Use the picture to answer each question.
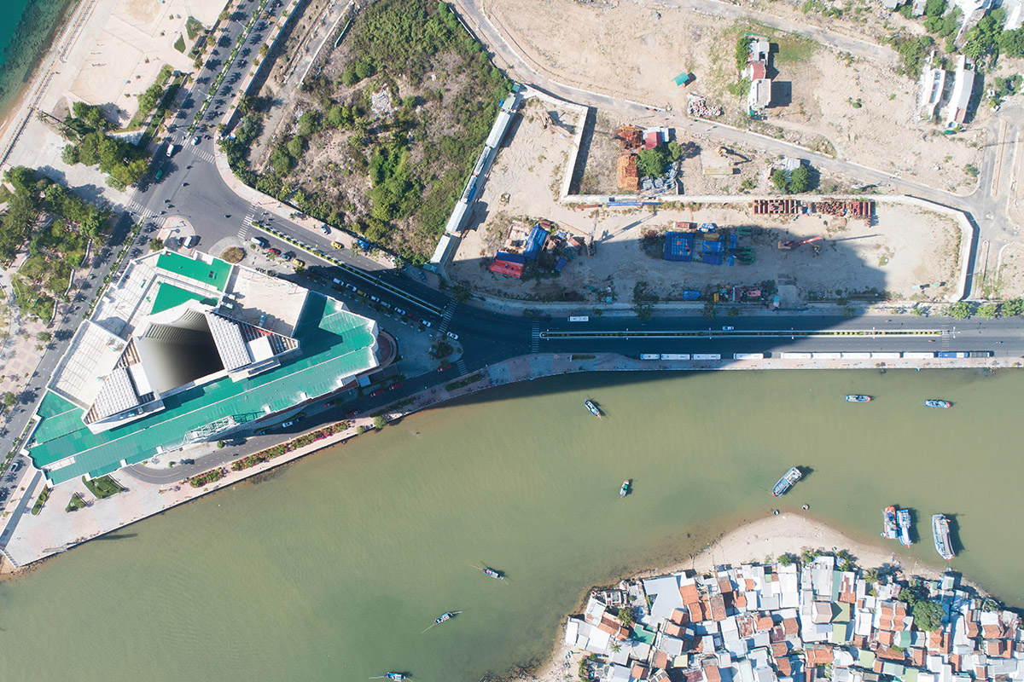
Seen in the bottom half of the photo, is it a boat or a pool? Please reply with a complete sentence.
Visible in the bottom half of the photo is a boat.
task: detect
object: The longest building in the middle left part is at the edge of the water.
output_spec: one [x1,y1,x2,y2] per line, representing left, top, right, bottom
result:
[17,245,400,490]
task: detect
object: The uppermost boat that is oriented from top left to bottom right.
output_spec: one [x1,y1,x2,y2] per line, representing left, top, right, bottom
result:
[583,399,601,418]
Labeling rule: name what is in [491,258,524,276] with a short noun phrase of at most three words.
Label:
shed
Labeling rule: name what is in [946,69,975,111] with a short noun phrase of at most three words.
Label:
house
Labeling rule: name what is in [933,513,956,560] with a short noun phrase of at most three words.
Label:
boat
